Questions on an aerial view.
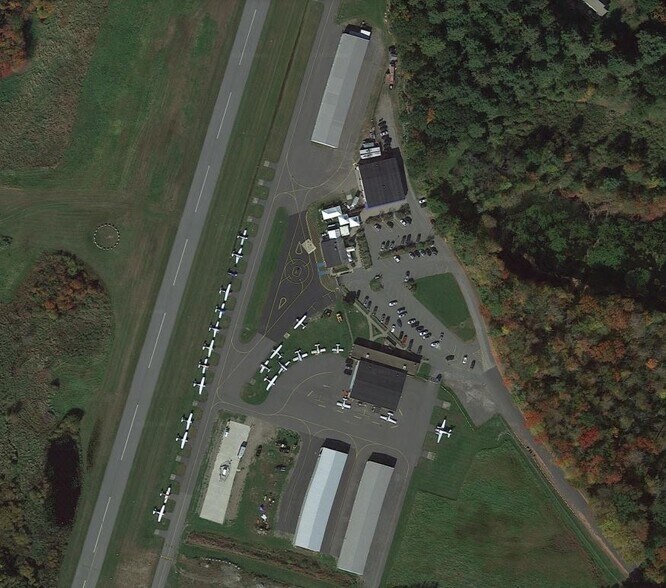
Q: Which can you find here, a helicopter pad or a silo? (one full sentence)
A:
This aerial view contains a helicopter pad.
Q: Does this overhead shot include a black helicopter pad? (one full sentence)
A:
No, no black helicopter pad is visible in the view.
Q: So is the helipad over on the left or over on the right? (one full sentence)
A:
You can find the helipad on the left side of the picture.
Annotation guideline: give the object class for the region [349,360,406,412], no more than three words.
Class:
hangar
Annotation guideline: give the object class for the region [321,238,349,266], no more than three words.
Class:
building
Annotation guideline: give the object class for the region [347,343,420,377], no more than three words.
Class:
building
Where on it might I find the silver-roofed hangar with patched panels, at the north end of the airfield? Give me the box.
[311,30,369,148]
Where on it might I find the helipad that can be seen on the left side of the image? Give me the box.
[200,421,250,524]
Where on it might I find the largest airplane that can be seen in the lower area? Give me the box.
[435,420,454,443]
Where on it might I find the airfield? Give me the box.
[71,0,450,588]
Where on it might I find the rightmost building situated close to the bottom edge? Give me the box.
[337,461,394,575]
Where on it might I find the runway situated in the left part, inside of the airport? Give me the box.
[71,0,271,588]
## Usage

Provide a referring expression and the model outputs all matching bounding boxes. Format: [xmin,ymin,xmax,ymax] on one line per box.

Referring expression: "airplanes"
[194,377,206,394]
[337,398,351,409]
[332,344,343,354]
[237,230,248,245]
[209,322,220,337]
[435,420,454,443]
[226,268,236,280]
[215,303,225,318]
[198,358,209,373]
[278,360,290,373]
[203,340,215,356]
[380,412,397,423]
[159,488,171,503]
[232,248,243,263]
[294,315,307,329]
[271,345,284,358]
[264,375,277,390]
[311,344,326,355]
[176,431,188,449]
[260,360,272,373]
[181,413,193,430]
[220,284,232,301]
[293,350,308,361]
[153,505,165,522]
